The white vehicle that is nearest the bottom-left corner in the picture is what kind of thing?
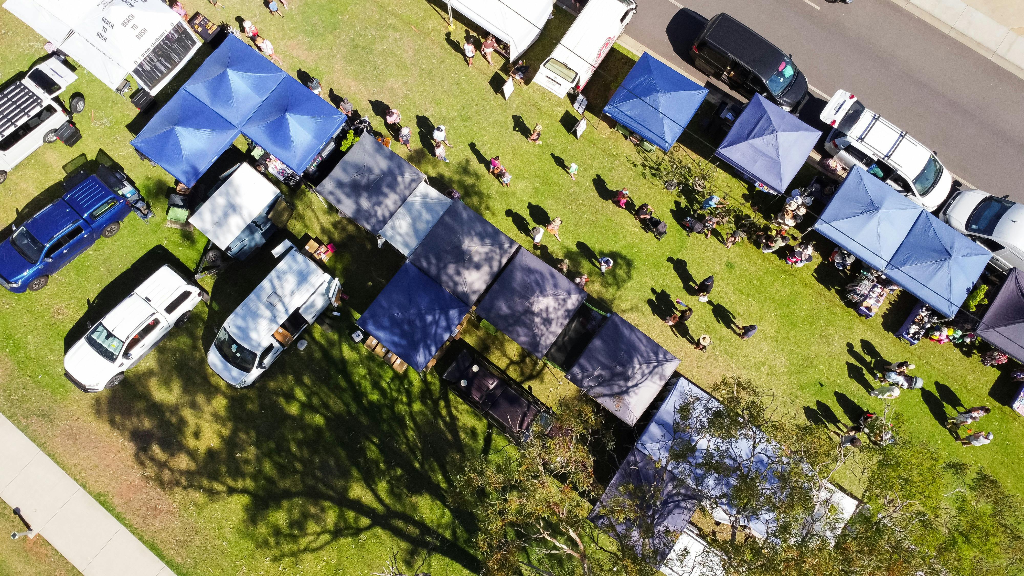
truck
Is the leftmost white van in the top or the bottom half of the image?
top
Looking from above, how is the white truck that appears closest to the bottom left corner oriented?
on a diagonal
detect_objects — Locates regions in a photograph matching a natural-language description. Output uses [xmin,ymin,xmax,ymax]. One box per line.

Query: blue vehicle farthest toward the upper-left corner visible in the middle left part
[0,168,137,301]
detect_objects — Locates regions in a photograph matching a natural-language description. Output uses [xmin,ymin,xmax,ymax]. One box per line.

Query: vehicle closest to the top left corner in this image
[0,57,90,187]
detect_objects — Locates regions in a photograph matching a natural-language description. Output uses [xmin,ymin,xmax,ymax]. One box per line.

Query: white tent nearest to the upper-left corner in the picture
[2,0,89,74]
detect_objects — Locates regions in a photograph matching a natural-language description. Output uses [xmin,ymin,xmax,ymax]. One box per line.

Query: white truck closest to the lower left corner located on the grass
[57,266,210,400]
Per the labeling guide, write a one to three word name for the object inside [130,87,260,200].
gazebo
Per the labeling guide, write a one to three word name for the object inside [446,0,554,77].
tent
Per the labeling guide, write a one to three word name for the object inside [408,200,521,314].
gazebo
